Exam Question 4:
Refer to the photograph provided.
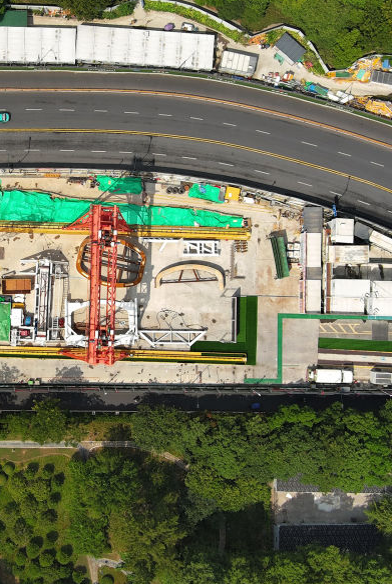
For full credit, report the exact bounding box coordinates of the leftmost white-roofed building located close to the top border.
[0,26,76,66]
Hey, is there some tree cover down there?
Yes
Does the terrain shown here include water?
No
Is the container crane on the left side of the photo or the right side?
left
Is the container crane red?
Yes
